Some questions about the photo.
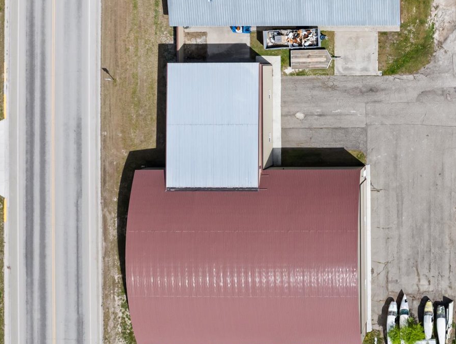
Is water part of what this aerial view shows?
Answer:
No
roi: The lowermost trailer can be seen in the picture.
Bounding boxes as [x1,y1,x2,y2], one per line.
[288,49,338,69]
